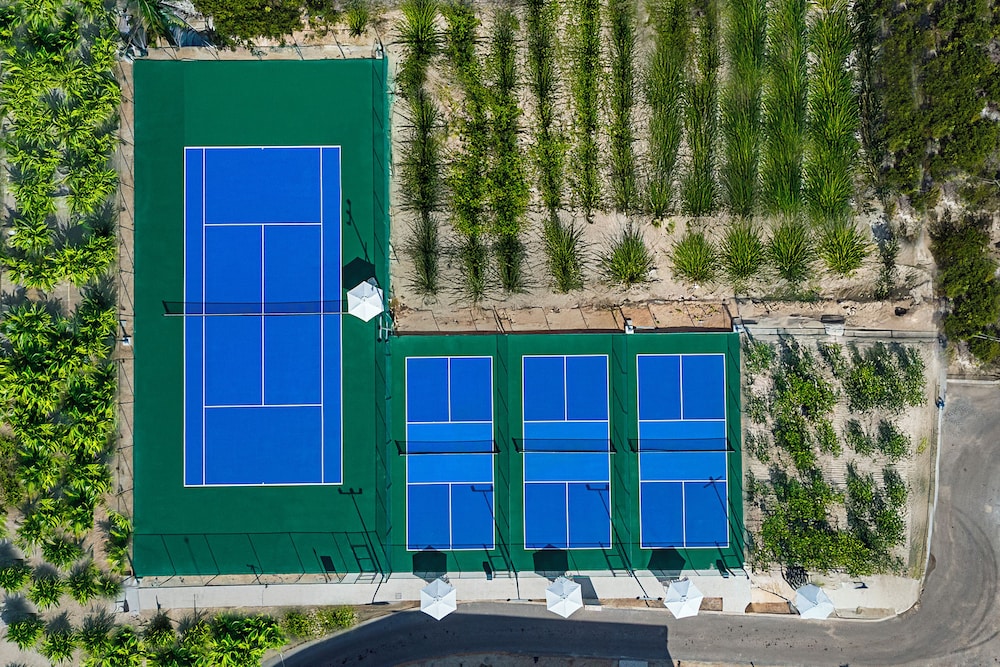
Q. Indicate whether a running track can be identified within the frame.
No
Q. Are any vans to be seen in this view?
No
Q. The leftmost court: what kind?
tennis court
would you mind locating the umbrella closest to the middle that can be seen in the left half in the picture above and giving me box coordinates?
[348,280,384,319]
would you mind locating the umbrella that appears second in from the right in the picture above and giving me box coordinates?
[664,579,702,617]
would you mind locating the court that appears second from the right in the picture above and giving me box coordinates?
[508,334,629,572]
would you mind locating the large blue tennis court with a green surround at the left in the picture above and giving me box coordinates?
[134,59,389,577]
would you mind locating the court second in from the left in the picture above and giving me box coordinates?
[392,334,512,573]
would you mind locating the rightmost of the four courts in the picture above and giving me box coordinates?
[623,333,746,571]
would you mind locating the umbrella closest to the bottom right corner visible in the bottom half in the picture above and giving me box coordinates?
[793,584,829,621]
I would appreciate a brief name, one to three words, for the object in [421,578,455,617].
umbrella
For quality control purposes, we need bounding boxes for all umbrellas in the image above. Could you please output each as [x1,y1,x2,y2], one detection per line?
[546,576,582,615]
[664,579,702,617]
[793,584,829,621]
[348,280,384,319]
[421,578,455,617]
